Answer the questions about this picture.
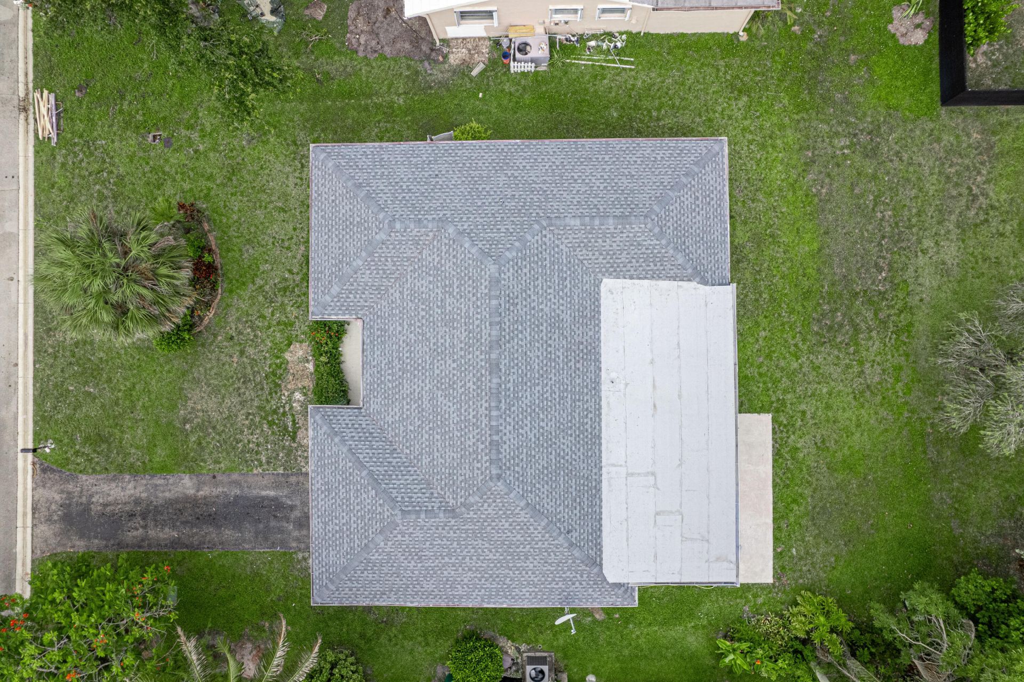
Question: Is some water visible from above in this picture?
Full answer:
No, the picture contains no water.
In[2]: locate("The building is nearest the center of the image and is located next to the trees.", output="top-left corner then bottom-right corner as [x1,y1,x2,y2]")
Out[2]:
[309,137,740,606]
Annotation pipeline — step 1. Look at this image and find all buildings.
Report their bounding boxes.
[309,137,740,606]
[403,0,779,44]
